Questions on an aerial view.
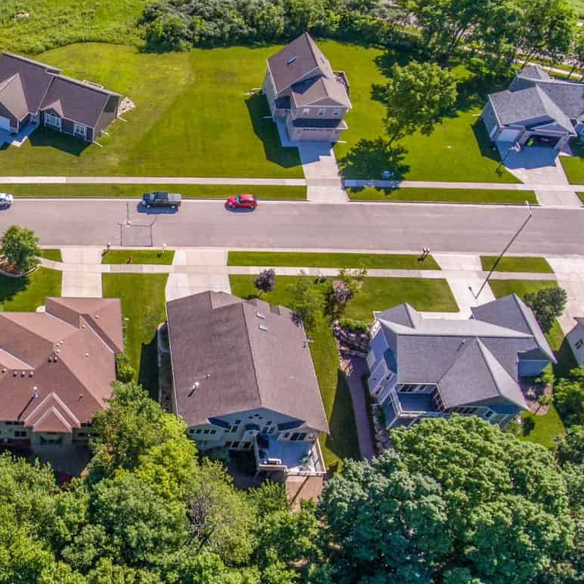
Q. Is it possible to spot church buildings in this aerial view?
No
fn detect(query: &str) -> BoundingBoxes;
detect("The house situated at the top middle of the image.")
[250,32,353,141]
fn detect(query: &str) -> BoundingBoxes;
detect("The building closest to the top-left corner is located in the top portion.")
[0,49,125,148]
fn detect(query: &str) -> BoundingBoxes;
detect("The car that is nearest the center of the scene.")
[227,195,258,210]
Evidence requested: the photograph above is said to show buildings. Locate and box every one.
[0,296,123,453]
[0,49,125,148]
[250,32,353,141]
[565,317,584,362]
[165,290,330,490]
[482,64,584,150]
[373,292,557,432]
